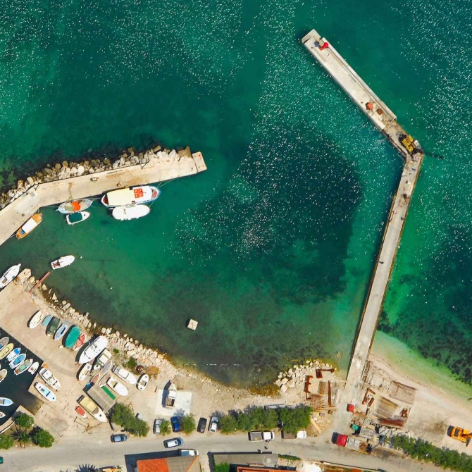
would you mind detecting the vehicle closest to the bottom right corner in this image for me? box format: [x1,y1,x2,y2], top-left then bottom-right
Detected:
[451,426,472,448]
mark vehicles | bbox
[109,434,128,442]
[0,457,5,464]
[196,416,207,435]
[162,438,184,449]
[132,411,152,428]
[451,426,472,448]
[248,432,273,441]
[337,424,381,450]
[283,430,307,439]
[209,415,219,434]
[170,415,180,434]
[178,448,199,458]
[152,415,162,437]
